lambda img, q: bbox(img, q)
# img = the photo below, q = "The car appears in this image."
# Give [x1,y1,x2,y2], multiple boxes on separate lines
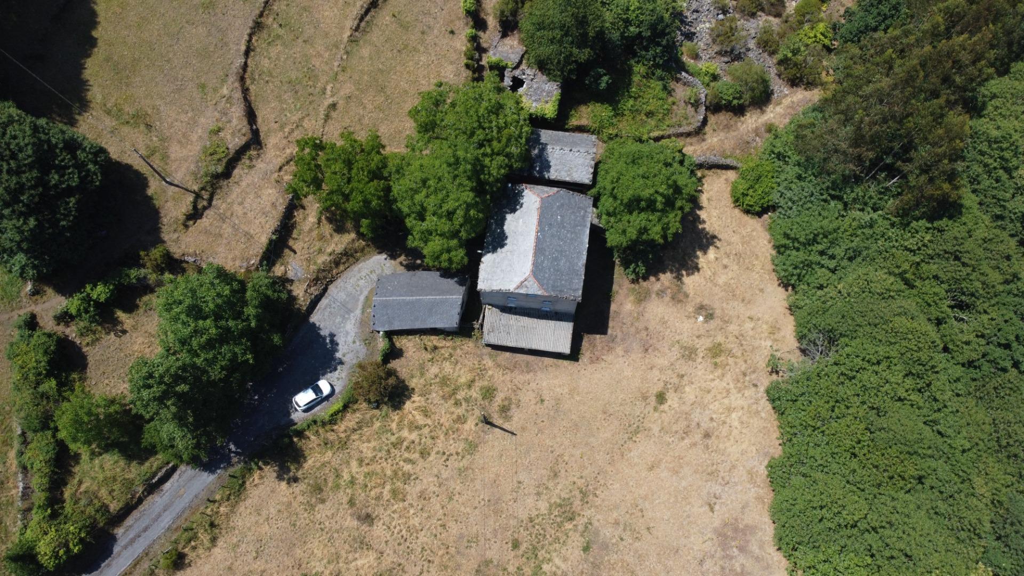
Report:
[291,380,331,411]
